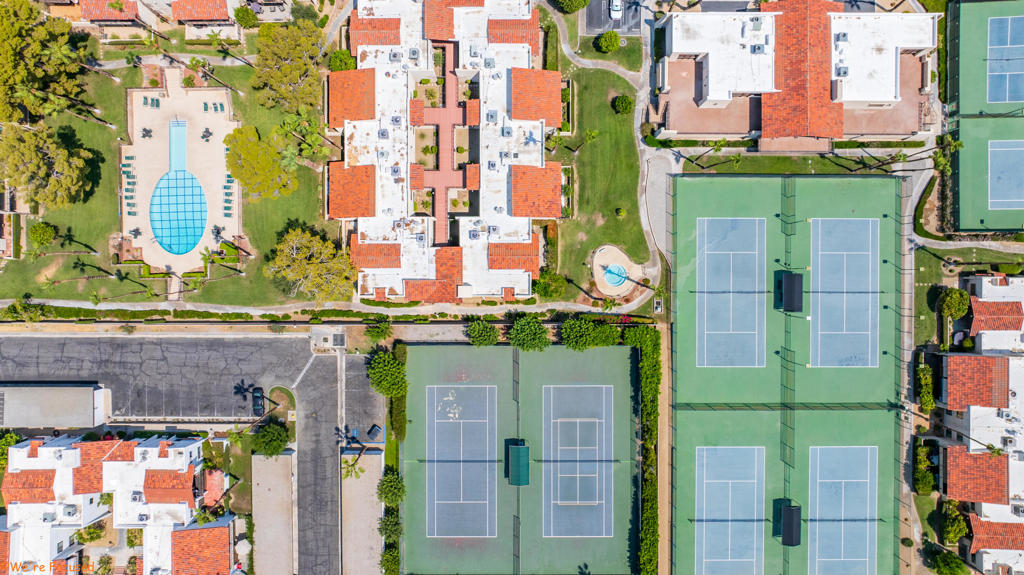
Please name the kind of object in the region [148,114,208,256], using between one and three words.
swimming pool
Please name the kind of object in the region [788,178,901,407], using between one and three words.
tennis court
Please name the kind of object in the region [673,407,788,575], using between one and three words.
tennis court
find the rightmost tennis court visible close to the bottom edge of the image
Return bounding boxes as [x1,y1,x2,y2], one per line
[788,407,901,575]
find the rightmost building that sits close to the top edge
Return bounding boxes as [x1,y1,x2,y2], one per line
[648,0,942,153]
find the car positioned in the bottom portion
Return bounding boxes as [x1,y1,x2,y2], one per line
[250,387,265,417]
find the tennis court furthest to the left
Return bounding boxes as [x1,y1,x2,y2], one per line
[402,346,516,574]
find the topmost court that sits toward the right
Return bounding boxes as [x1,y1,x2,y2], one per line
[961,3,1024,118]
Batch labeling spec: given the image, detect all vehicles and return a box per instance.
[610,0,625,19]
[250,387,265,417]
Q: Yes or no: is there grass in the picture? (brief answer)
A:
Yes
